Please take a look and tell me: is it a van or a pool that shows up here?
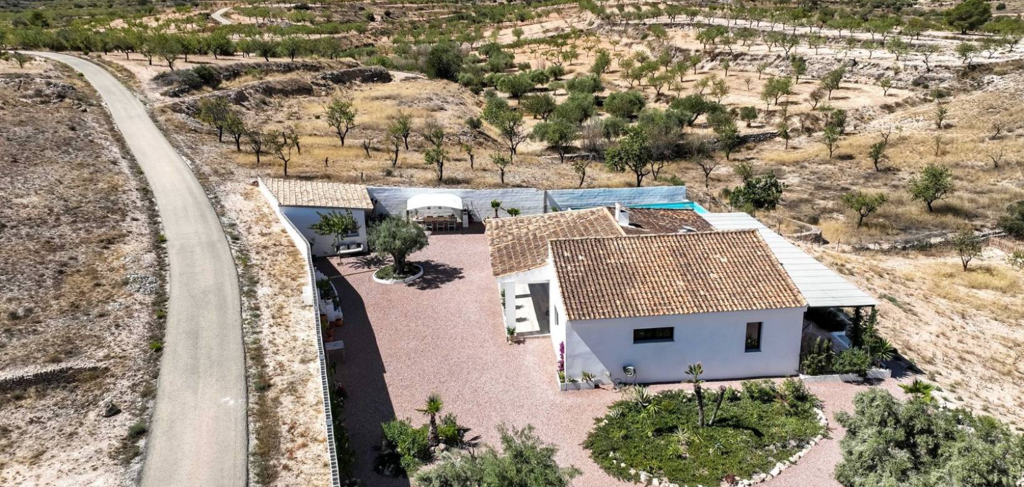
pool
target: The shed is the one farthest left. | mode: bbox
[262,178,374,256]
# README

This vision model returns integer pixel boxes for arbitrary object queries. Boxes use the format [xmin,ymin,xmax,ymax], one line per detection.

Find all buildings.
[262,178,374,256]
[486,195,808,387]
